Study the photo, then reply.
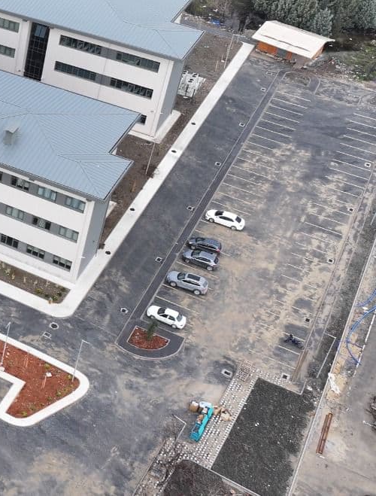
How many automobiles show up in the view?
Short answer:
5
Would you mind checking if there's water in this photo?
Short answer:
No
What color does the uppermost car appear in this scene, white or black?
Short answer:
white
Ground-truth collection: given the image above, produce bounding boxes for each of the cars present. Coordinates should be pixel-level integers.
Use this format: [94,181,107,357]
[182,234,226,257]
[204,210,246,232]
[143,304,189,331]
[166,272,209,297]
[180,249,219,272]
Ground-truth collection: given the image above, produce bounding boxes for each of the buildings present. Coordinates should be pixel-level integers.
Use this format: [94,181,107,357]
[251,22,331,69]
[0,0,206,282]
